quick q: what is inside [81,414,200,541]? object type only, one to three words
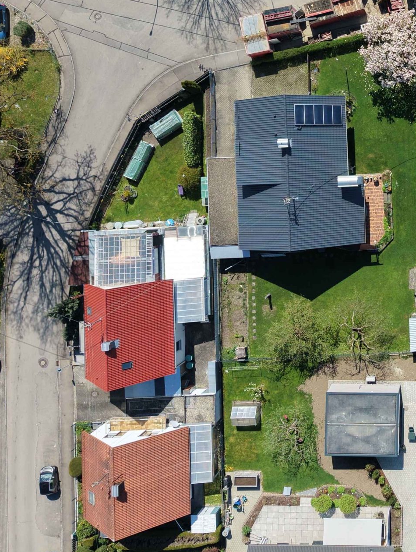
house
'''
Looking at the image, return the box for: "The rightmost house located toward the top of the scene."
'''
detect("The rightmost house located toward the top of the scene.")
[233,94,368,252]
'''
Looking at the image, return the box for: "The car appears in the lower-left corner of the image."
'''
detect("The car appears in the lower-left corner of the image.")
[39,467,61,495]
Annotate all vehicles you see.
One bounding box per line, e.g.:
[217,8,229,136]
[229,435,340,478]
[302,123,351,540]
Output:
[0,3,11,43]
[39,467,61,495]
